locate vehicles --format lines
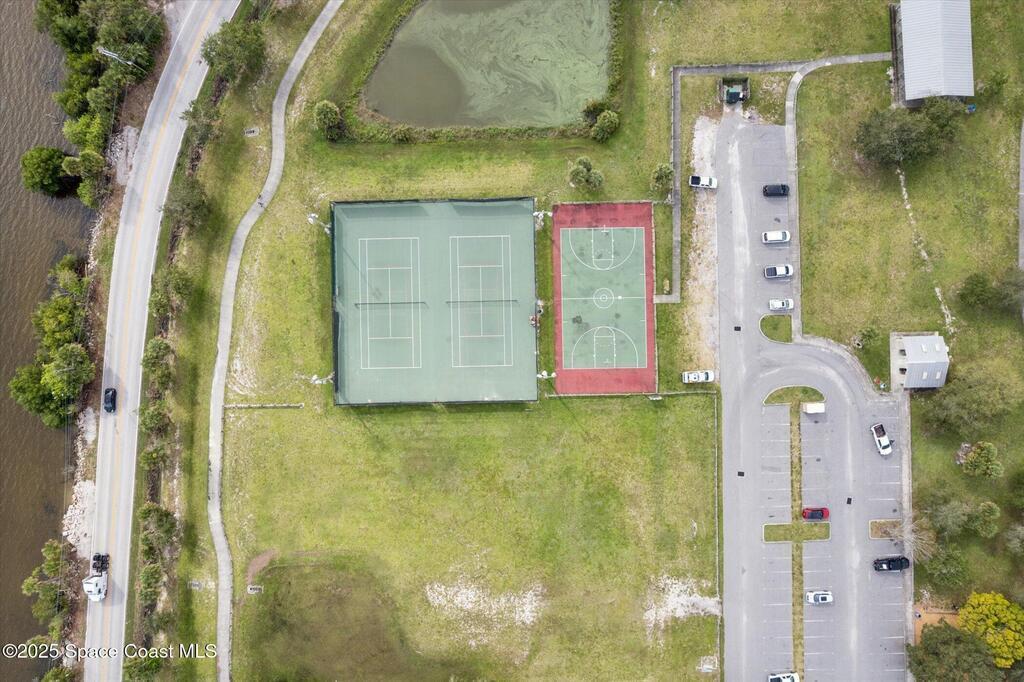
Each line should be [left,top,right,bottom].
[764,265,794,277]
[100,387,116,412]
[689,175,717,188]
[762,230,790,243]
[769,298,794,310]
[683,371,713,384]
[806,592,834,605]
[769,673,799,682]
[763,183,790,196]
[81,553,109,599]
[872,424,894,455]
[876,558,908,572]
[803,508,830,521]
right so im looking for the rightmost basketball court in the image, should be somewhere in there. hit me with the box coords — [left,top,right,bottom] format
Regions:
[553,202,657,394]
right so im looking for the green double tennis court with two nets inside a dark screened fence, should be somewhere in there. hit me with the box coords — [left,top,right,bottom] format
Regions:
[336,200,537,403]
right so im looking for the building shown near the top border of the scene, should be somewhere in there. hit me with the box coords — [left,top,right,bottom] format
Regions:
[887,0,974,103]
